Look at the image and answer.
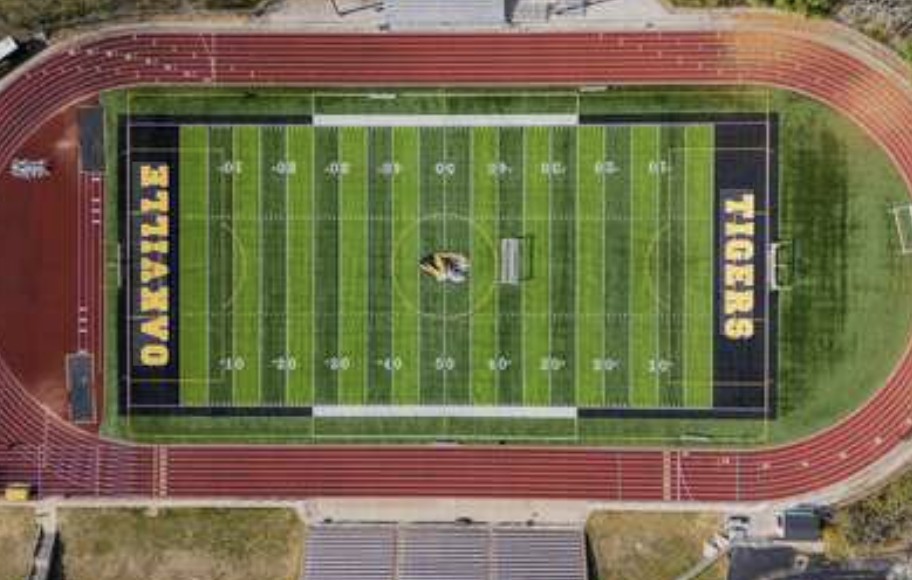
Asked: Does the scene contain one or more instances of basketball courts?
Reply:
No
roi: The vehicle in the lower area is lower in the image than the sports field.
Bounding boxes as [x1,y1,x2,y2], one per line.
[733,515,748,547]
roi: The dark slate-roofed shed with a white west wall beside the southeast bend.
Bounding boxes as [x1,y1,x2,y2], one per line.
[778,506,819,540]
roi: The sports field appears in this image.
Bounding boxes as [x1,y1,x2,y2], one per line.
[104,84,781,448]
